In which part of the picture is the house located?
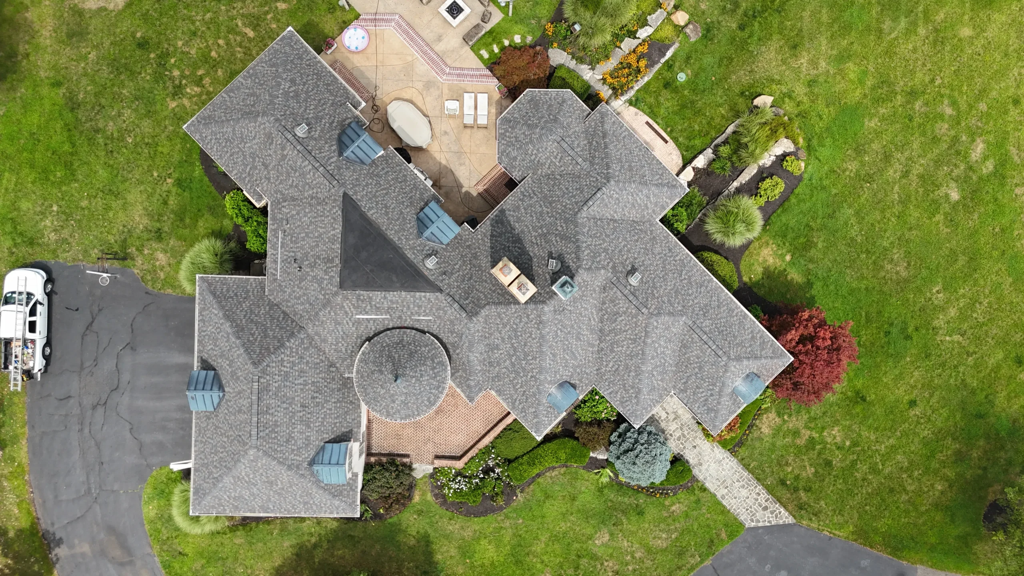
center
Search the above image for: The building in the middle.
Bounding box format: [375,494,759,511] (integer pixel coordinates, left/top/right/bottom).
[181,24,796,519]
